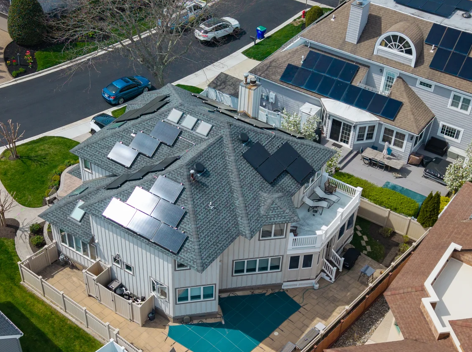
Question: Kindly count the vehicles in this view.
four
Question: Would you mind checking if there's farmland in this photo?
No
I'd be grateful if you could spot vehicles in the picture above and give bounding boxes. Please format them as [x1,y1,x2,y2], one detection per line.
[156,2,206,31]
[196,15,241,42]
[101,74,153,104]
[80,115,111,137]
